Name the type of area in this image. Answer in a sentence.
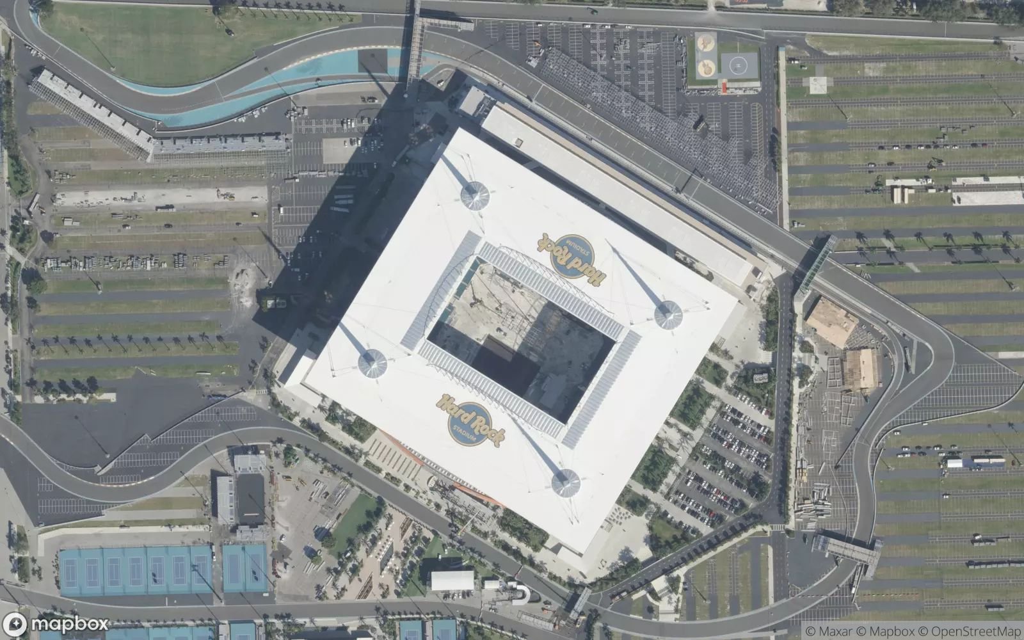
This image shows a sports ground.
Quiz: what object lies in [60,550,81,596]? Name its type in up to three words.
tennis court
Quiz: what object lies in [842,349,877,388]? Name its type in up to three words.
shed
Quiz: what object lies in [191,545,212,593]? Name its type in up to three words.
tennis court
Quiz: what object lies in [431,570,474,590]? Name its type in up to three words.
building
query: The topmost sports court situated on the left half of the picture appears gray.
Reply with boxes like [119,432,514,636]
[237,474,264,524]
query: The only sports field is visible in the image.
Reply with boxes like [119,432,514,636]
[428,262,614,423]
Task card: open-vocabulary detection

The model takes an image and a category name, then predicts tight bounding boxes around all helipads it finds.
[721,44,757,79]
